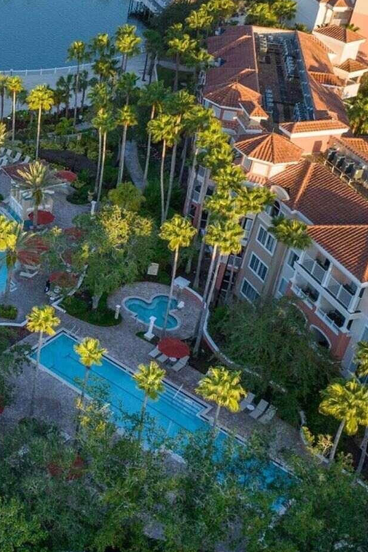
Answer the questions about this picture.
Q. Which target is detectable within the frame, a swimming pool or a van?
swimming pool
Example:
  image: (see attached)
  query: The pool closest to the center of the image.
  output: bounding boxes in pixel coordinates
[122,293,181,332]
